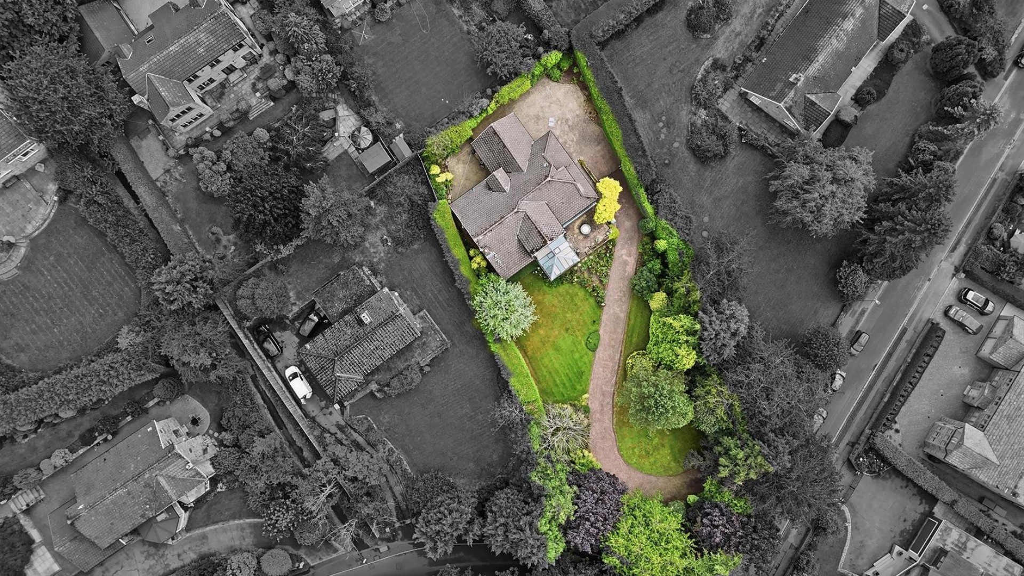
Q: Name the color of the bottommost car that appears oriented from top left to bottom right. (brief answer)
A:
white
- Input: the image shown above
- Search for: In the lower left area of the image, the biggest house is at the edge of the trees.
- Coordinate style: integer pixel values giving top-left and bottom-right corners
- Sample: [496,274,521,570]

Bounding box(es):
[48,419,223,573]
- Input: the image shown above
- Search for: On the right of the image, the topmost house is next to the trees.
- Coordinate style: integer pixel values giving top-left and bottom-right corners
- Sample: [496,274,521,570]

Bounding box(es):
[737,0,916,134]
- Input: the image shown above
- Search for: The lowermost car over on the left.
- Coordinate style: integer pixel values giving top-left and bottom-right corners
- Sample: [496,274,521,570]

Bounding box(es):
[282,363,317,405]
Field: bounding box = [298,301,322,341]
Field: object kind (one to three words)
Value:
car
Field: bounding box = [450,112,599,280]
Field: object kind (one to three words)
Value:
house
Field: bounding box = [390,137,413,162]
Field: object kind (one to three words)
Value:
shed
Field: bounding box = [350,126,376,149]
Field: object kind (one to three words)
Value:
gazebo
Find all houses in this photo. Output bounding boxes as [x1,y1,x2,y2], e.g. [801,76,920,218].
[0,109,48,181]
[997,229,1024,257]
[117,0,256,130]
[297,265,420,404]
[450,112,599,280]
[48,419,223,573]
[319,0,368,23]
[925,369,1024,508]
[861,511,1024,576]
[737,0,916,134]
